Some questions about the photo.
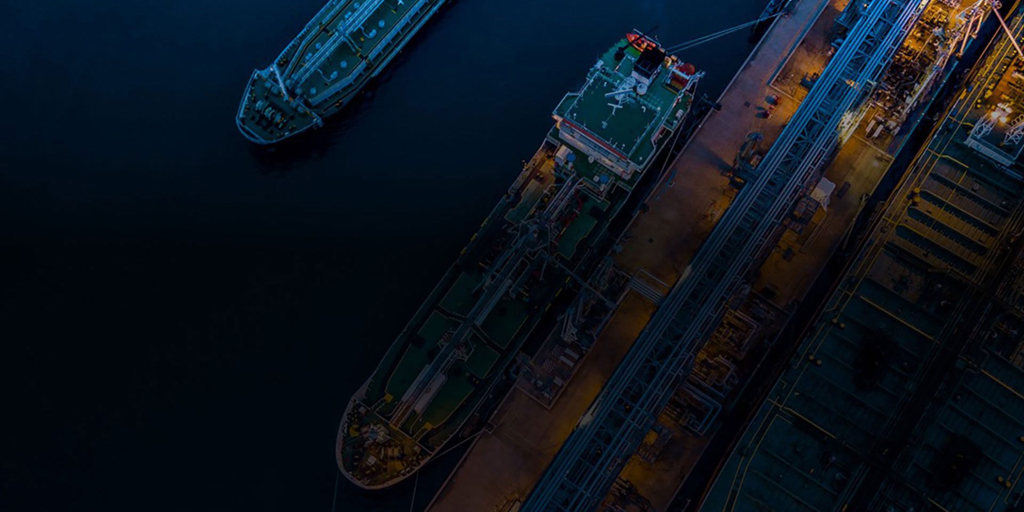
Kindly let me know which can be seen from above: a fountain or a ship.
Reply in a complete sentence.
I can see a ship in this picture.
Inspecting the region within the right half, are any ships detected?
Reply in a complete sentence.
Yes, there is a ship within the right half.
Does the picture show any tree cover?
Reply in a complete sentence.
No, there is no tree cover in the image.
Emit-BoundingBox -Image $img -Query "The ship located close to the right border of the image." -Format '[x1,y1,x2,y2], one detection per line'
[685,0,1024,512]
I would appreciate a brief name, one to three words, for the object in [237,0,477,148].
ship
